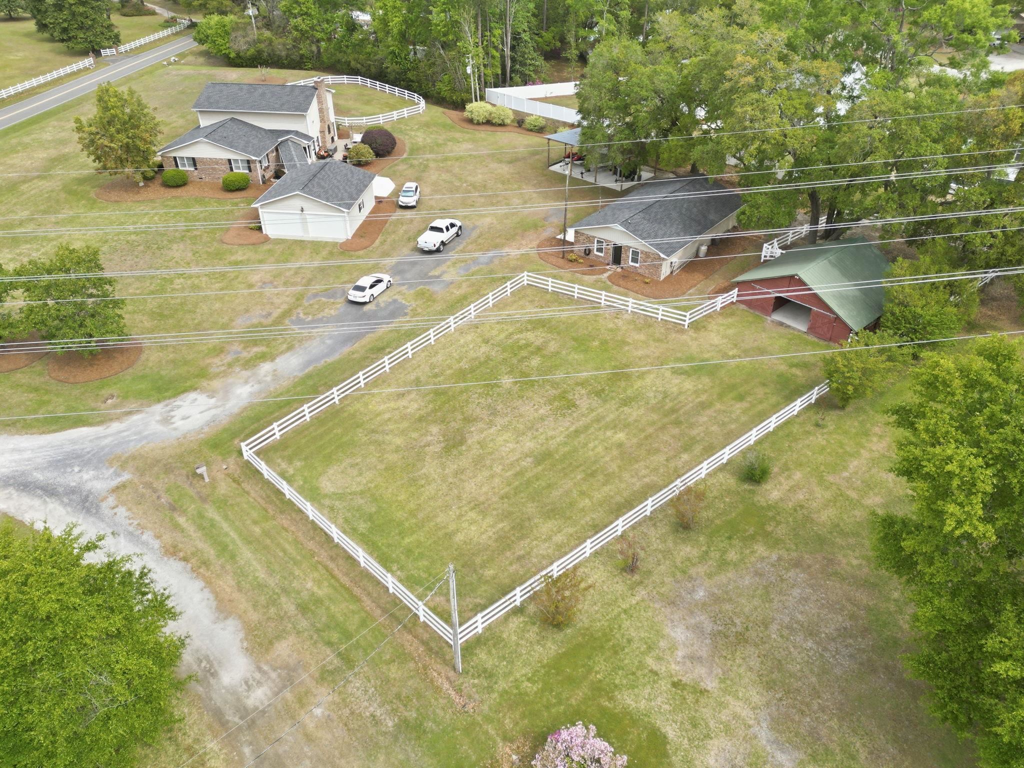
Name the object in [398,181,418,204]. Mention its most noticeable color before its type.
white car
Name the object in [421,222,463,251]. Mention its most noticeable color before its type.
white truck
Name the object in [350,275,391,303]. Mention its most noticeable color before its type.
white car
